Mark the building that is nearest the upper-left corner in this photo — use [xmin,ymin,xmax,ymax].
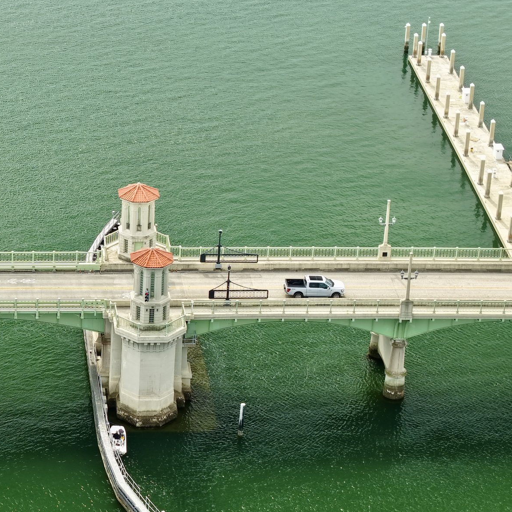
[114,182,160,261]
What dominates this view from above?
water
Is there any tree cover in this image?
No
